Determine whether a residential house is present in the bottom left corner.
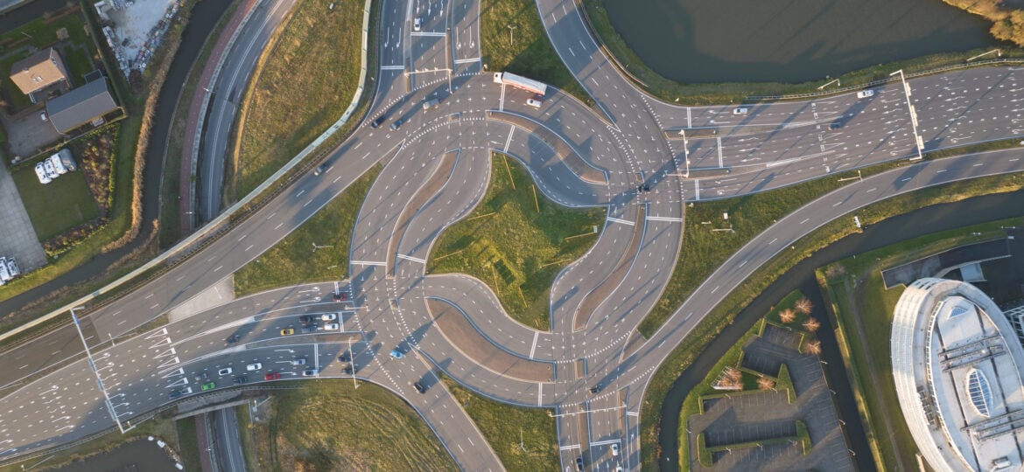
No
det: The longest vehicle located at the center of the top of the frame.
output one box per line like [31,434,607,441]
[493,70,548,93]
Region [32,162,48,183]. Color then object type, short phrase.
white camper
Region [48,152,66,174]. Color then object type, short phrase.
white camper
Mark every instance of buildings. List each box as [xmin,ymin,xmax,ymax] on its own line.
[890,277,1024,472]
[10,47,69,95]
[45,77,117,134]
